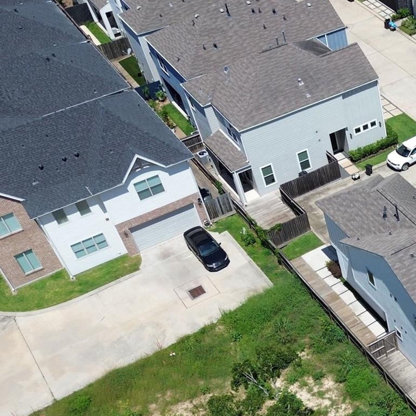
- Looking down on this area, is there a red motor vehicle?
No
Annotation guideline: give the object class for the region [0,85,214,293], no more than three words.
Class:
house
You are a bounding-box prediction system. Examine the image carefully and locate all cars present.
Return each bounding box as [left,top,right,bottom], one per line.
[386,134,416,171]
[180,225,228,272]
